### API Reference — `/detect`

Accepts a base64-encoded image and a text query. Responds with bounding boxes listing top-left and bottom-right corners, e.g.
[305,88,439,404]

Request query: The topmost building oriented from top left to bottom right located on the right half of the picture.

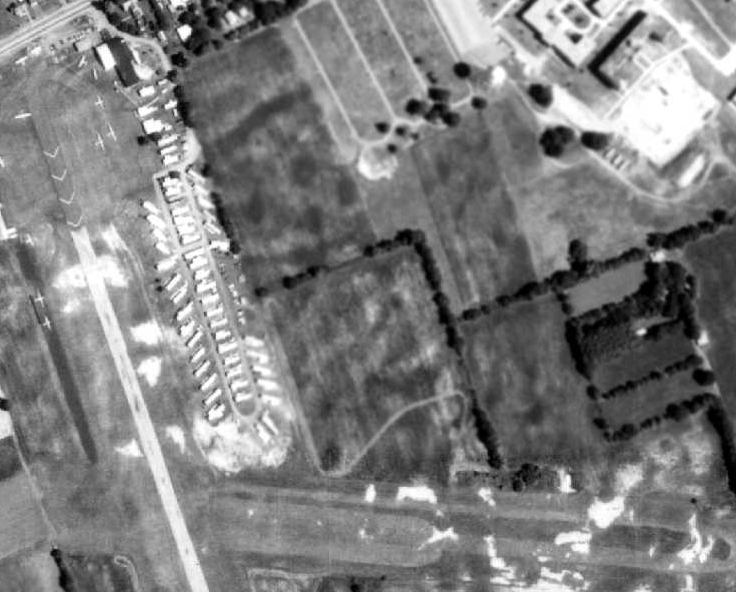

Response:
[522,0,597,68]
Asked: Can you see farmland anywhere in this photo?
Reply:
Yes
